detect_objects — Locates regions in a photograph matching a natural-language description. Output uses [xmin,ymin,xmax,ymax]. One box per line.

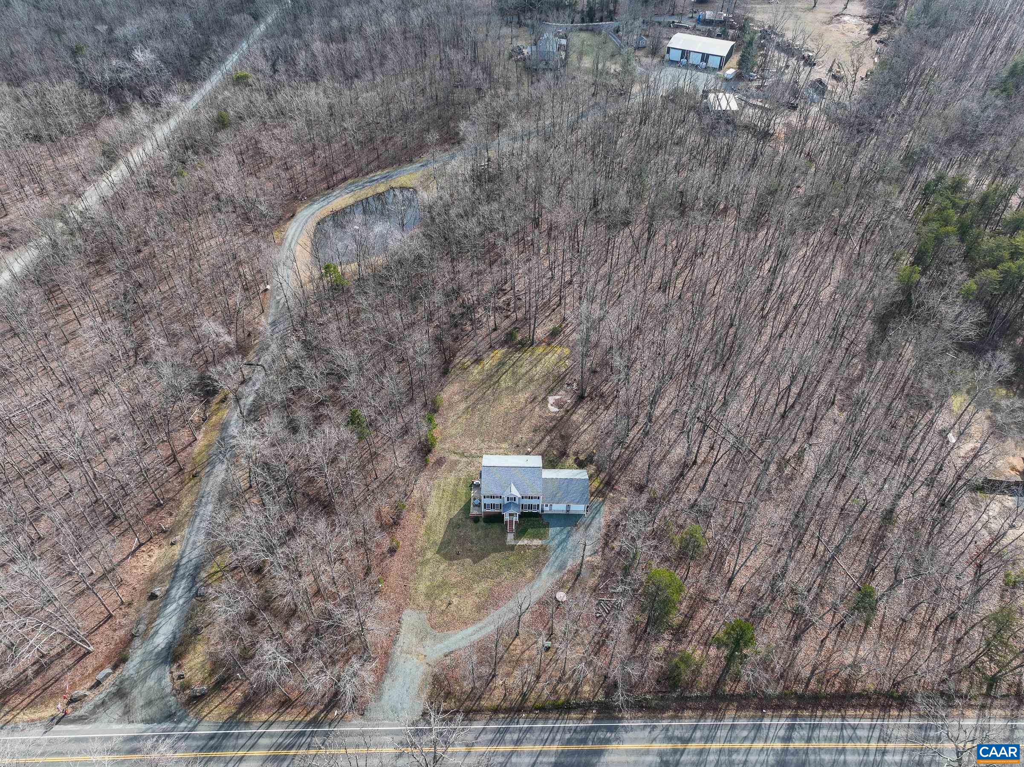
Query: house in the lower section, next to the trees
[471,455,589,534]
